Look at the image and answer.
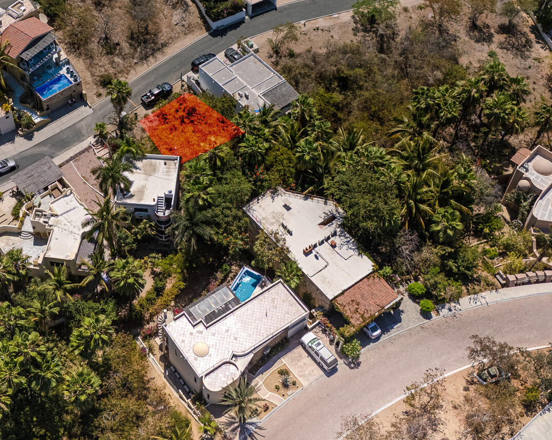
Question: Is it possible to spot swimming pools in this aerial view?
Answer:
Yes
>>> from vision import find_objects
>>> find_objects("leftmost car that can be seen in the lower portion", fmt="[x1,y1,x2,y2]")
[299,330,340,373]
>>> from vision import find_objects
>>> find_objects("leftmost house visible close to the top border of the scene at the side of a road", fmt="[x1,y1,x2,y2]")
[0,0,92,140]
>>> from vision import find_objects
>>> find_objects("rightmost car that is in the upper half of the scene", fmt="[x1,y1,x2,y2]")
[222,46,245,63]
